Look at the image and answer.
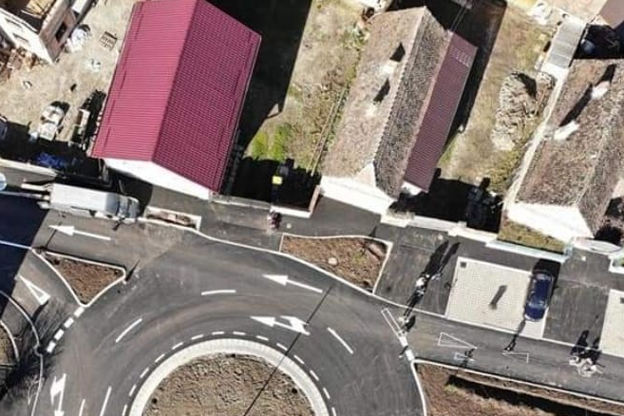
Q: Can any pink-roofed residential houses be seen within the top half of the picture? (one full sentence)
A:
Yes, looking within the top half of the picture, one can make out a pink-roofed residential house.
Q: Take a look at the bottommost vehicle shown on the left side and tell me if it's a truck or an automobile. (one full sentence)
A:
What you see as the bottommost vehicle shown on the left side is a truck.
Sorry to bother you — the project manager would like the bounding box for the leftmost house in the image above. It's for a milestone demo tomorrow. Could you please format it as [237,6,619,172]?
[0,0,79,62]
